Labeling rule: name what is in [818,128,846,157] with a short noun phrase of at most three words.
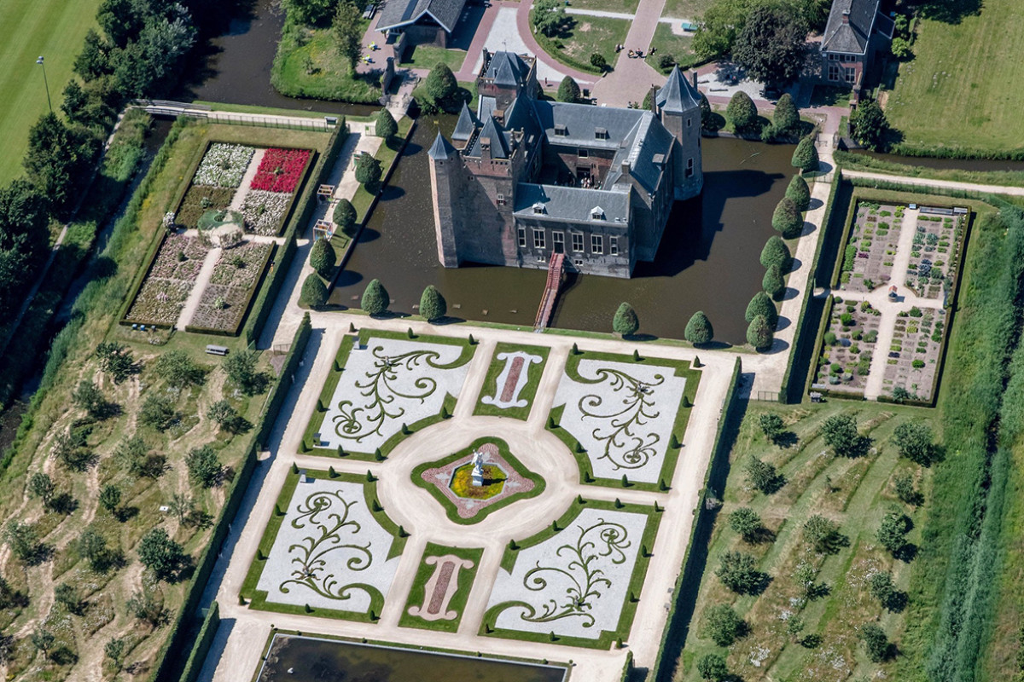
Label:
bridge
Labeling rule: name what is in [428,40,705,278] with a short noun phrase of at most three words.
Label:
building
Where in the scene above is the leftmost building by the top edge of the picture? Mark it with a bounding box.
[381,0,466,49]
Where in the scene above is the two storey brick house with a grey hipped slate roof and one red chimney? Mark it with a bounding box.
[819,0,900,88]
